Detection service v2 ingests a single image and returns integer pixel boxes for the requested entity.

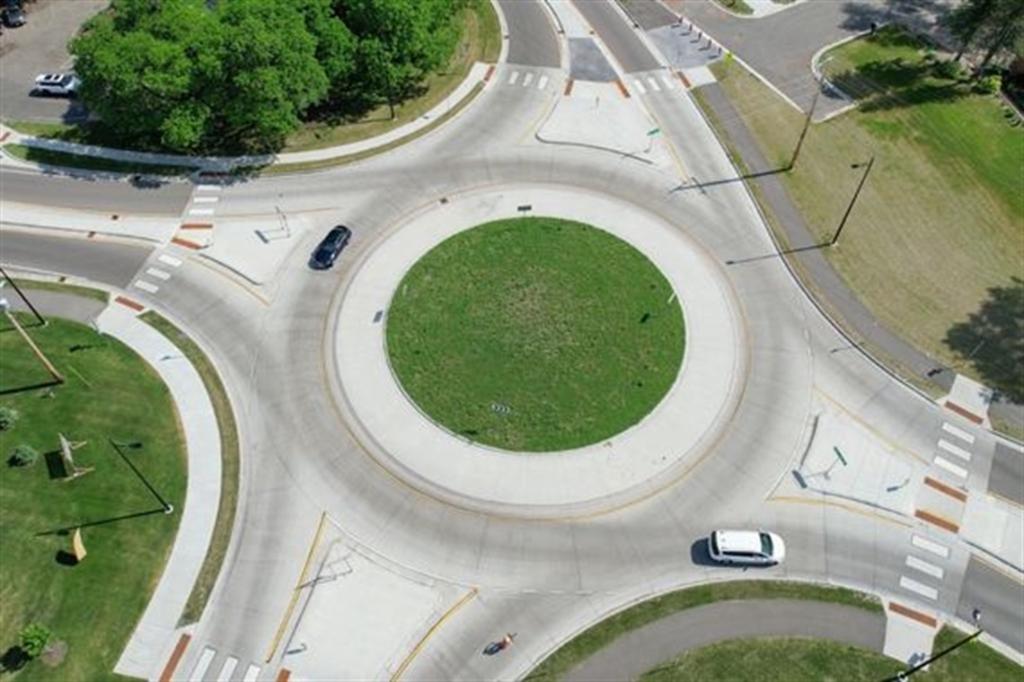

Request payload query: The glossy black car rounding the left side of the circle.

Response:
[309,225,351,270]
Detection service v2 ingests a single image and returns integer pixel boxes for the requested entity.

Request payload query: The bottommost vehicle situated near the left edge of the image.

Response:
[31,72,82,100]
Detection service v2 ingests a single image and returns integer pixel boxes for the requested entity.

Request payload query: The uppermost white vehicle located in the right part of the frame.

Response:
[709,533,791,573]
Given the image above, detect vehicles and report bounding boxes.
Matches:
[309,225,351,270]
[709,533,791,573]
[0,0,27,31]
[31,72,82,100]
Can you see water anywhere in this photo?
No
